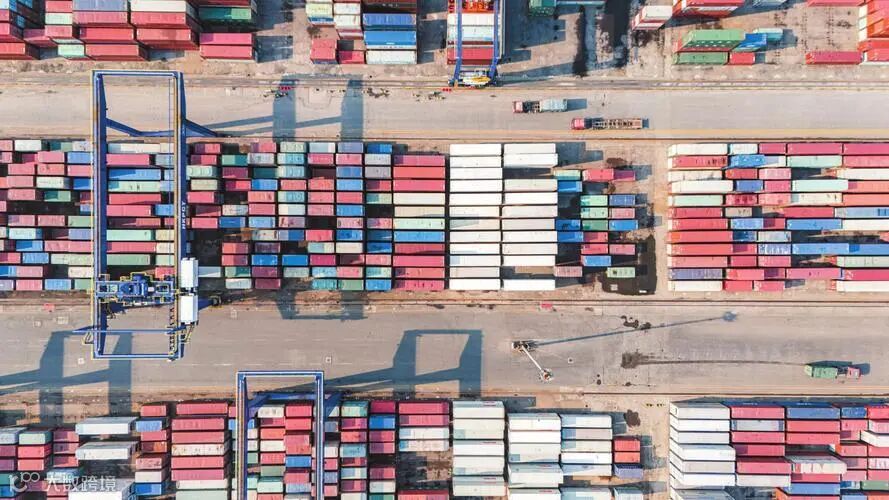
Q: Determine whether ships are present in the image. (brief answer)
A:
No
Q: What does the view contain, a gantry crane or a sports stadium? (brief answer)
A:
gantry crane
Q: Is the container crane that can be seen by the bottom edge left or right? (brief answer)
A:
left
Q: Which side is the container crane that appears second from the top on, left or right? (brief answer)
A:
left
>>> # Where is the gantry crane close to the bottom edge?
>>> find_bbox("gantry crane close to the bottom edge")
[232,372,343,500]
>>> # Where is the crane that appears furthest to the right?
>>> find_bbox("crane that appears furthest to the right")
[447,0,503,88]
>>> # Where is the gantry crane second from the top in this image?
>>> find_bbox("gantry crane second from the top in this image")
[74,69,223,359]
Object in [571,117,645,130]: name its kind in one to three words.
vehicle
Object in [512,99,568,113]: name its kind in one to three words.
vehicle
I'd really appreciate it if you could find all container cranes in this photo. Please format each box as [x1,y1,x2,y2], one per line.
[74,69,223,359]
[232,372,343,500]
[447,0,503,88]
